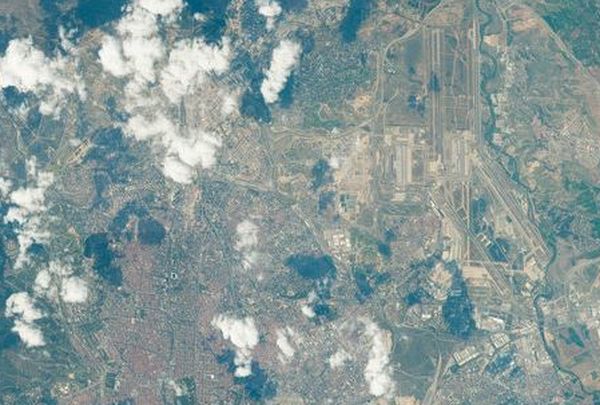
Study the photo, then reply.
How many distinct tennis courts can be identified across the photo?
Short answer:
none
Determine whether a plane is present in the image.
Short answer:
No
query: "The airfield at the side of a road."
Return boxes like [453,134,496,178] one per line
[384,18,553,300]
